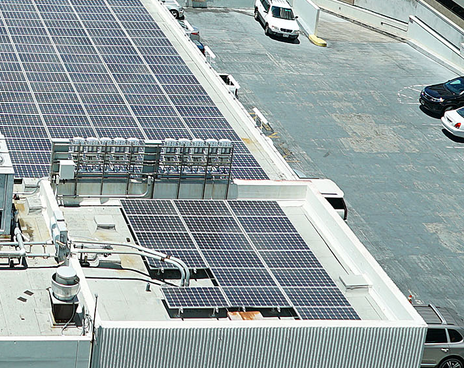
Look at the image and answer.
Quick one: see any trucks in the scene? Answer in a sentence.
No, the scene contains no truck.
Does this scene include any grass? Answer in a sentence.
No, grass can't be seen anywhere here.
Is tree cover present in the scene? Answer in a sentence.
No, the scene doesn't show any tree cover.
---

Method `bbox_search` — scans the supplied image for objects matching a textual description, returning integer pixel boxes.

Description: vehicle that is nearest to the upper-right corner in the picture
[412,67,464,110]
